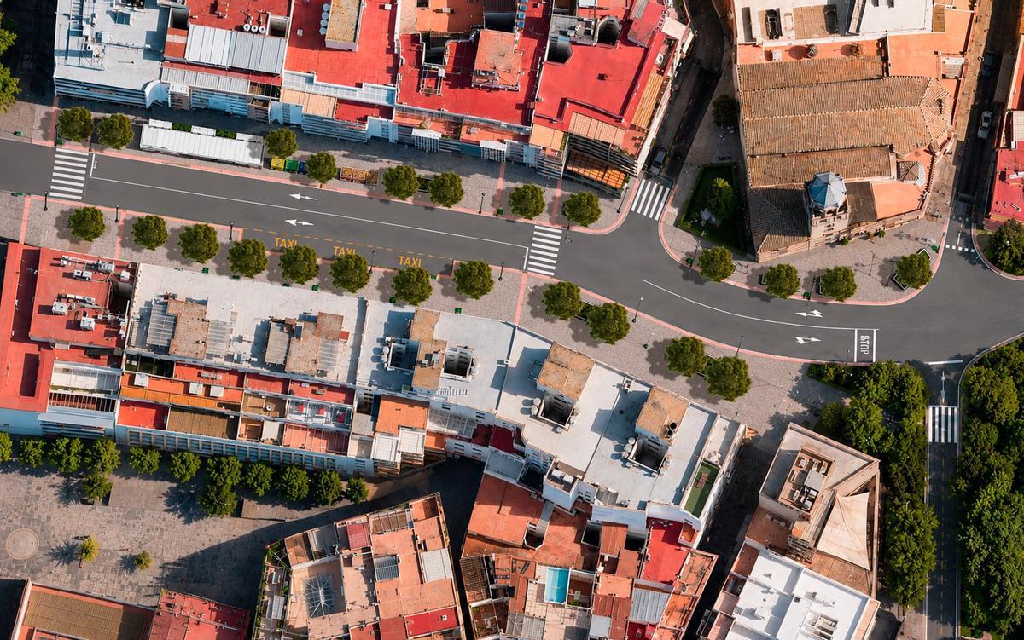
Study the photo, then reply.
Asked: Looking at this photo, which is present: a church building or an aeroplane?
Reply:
church building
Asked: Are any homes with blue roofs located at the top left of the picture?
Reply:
No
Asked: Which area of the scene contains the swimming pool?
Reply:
bottom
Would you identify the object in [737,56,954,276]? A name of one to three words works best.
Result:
church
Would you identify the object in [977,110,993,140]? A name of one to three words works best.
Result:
car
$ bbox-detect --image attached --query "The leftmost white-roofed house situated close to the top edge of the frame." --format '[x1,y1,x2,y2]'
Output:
[54,0,172,119]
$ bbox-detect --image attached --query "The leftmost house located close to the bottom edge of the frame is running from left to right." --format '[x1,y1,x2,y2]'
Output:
[12,578,155,640]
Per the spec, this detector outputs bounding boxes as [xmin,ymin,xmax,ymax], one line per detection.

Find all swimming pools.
[544,566,570,605]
